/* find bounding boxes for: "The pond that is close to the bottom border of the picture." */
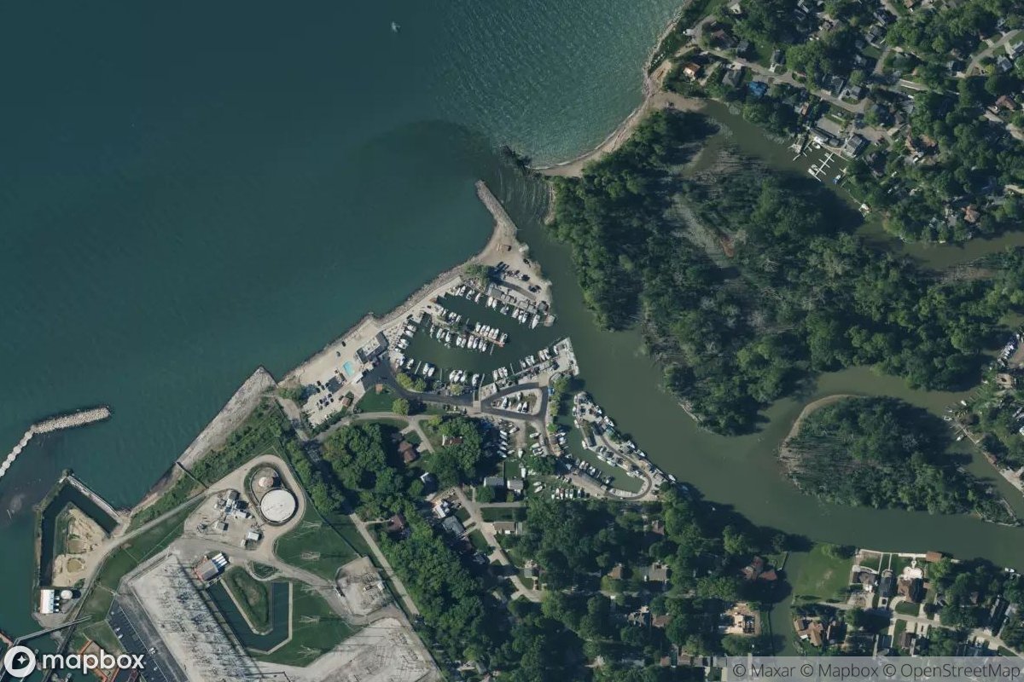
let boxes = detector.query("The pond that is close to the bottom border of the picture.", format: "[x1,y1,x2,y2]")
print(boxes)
[208,580,289,652]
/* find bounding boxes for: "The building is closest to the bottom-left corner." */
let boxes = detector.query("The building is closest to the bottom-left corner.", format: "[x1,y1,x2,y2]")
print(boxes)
[40,589,54,614]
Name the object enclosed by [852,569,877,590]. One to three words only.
house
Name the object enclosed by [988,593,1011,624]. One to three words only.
house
